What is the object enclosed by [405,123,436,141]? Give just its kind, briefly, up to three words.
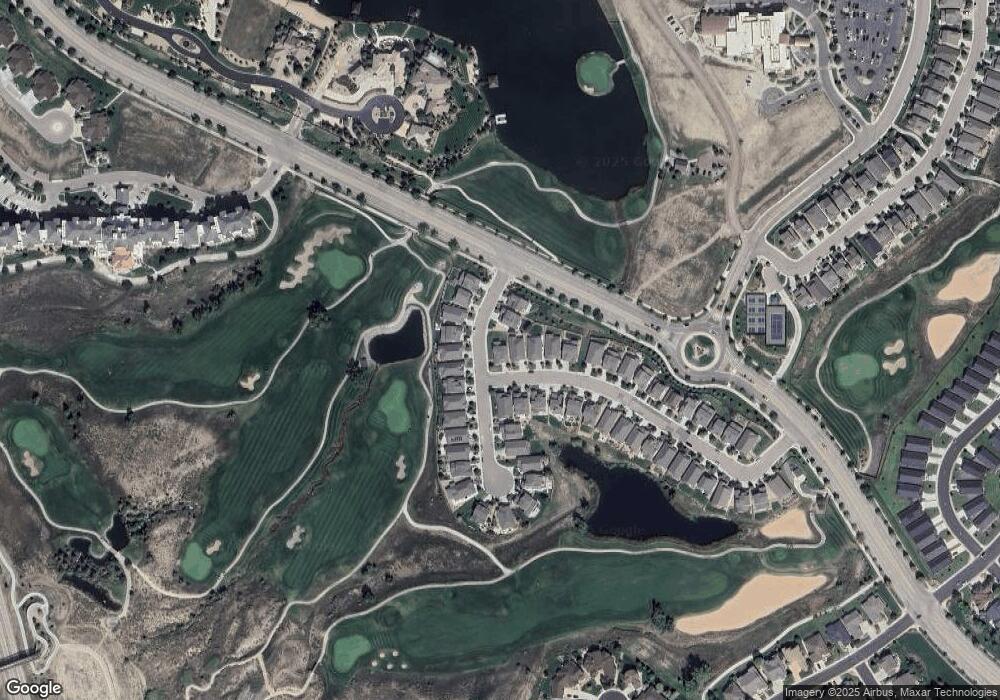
house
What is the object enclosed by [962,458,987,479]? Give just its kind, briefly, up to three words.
house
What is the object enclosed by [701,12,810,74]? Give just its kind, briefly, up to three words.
building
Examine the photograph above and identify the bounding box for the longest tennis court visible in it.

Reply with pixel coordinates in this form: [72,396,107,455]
[767,306,785,345]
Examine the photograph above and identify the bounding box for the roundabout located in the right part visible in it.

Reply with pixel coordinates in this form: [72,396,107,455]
[657,309,743,381]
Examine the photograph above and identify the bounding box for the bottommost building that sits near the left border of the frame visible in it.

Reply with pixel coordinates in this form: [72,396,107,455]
[0,185,256,260]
